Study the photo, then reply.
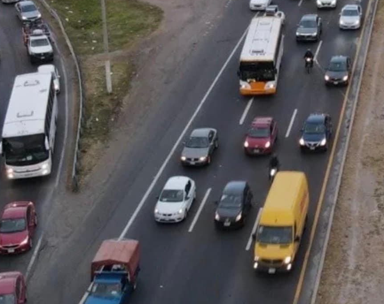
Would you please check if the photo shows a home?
No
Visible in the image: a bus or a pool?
bus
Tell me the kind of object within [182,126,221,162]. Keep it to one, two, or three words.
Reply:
car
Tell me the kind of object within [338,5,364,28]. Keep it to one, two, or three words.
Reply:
car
